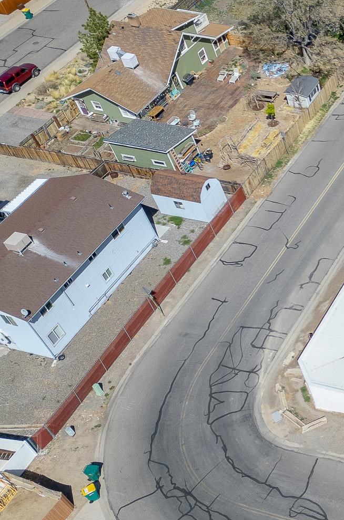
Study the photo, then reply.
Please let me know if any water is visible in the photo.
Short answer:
No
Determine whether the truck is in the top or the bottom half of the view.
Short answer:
top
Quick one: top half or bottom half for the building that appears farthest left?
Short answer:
bottom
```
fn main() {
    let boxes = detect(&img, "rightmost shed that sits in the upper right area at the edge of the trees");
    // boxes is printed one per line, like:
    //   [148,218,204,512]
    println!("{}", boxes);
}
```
[281,75,324,108]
